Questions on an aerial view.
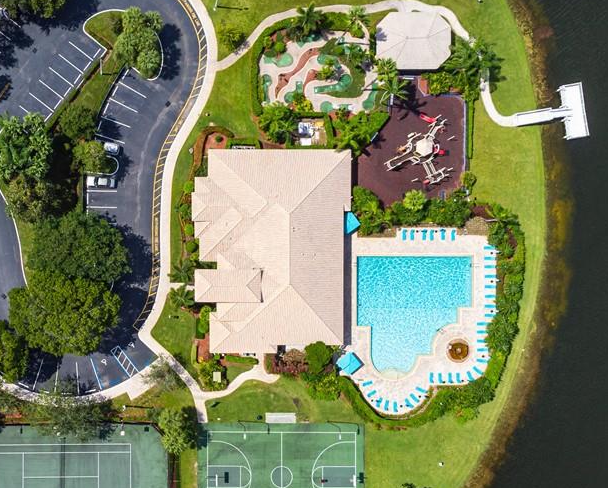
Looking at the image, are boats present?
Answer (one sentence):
No, I can't see a single boat in this photo.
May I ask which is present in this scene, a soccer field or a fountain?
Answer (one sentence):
I can see a fountain in this picture.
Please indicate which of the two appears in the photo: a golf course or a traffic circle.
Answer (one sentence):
It is a golf course that can be seen here.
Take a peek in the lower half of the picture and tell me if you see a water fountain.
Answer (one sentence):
Yes, in the lower half of the picture there is a water fountain.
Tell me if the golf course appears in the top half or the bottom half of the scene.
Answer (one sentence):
The golf course is in the top half of the image.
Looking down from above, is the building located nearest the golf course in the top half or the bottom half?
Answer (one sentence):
The building located nearest the golf course is in the top half of the image.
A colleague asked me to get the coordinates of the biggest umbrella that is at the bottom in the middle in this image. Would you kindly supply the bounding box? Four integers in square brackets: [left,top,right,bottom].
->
[336,350,363,376]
